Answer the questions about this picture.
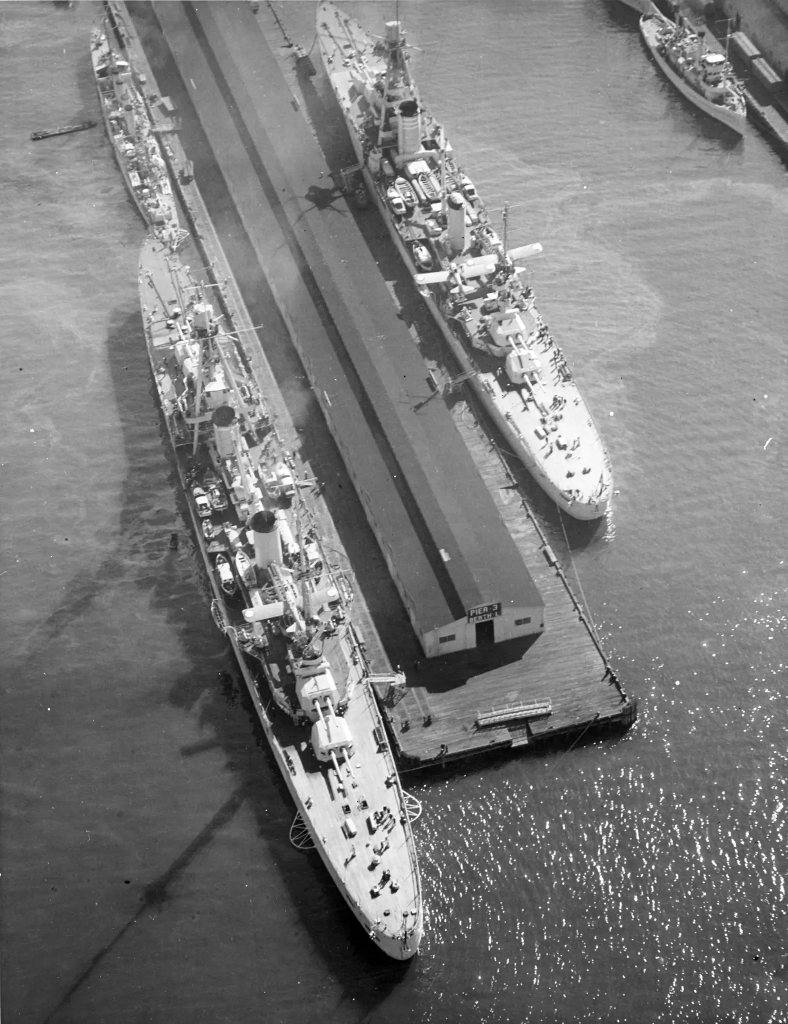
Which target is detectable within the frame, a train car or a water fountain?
train car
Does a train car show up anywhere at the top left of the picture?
No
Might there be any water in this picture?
Yes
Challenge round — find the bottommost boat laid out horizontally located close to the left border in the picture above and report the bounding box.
[31,121,93,143]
